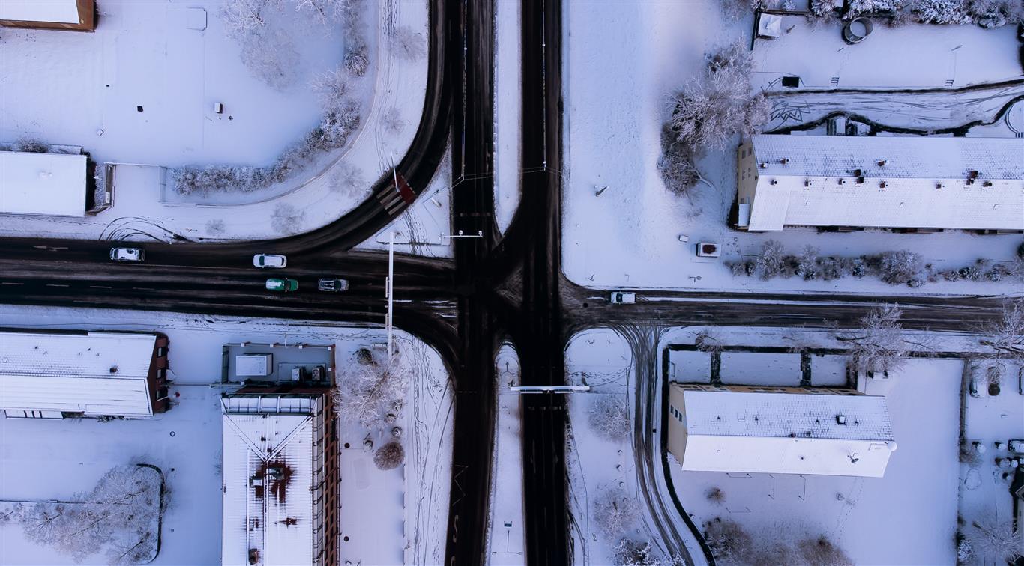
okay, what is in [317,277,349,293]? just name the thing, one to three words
car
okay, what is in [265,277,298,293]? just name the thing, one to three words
car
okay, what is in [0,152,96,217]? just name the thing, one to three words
building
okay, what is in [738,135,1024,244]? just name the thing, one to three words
house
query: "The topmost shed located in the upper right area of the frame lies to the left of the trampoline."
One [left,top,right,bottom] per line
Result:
[759,12,784,38]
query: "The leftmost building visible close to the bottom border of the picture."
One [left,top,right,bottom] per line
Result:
[217,384,339,566]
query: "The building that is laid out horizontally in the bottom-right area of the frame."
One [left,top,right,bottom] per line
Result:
[669,384,897,475]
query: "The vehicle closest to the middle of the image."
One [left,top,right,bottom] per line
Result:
[609,290,636,306]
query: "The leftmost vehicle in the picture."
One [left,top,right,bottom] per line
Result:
[110,246,144,263]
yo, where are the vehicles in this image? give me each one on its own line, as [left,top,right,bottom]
[317,277,349,293]
[1003,440,1024,454]
[110,246,144,263]
[986,371,1004,401]
[265,277,298,293]
[969,369,984,398]
[609,290,636,306]
[253,253,287,269]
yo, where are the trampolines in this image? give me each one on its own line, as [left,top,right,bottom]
[841,14,873,42]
